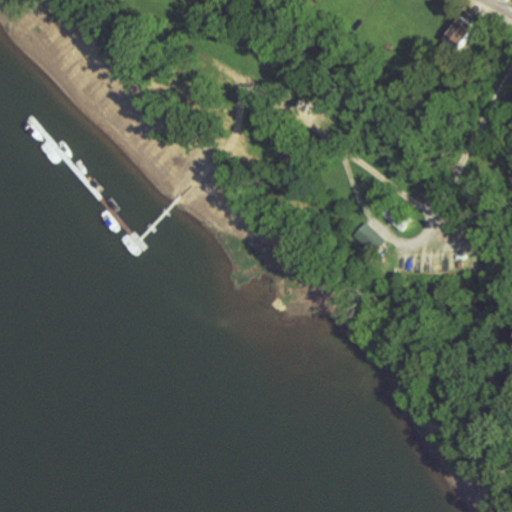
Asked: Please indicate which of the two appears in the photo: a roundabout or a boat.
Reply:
boat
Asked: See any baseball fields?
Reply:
No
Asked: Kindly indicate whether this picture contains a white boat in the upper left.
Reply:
Yes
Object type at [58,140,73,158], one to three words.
boat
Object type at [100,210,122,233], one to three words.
boat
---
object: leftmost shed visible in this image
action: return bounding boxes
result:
[354,223,385,253]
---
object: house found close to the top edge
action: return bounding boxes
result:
[444,16,472,48]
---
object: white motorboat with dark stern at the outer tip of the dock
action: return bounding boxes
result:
[27,125,43,142]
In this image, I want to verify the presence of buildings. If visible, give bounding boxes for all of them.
[444,16,472,48]
[354,223,385,253]
[388,212,416,234]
